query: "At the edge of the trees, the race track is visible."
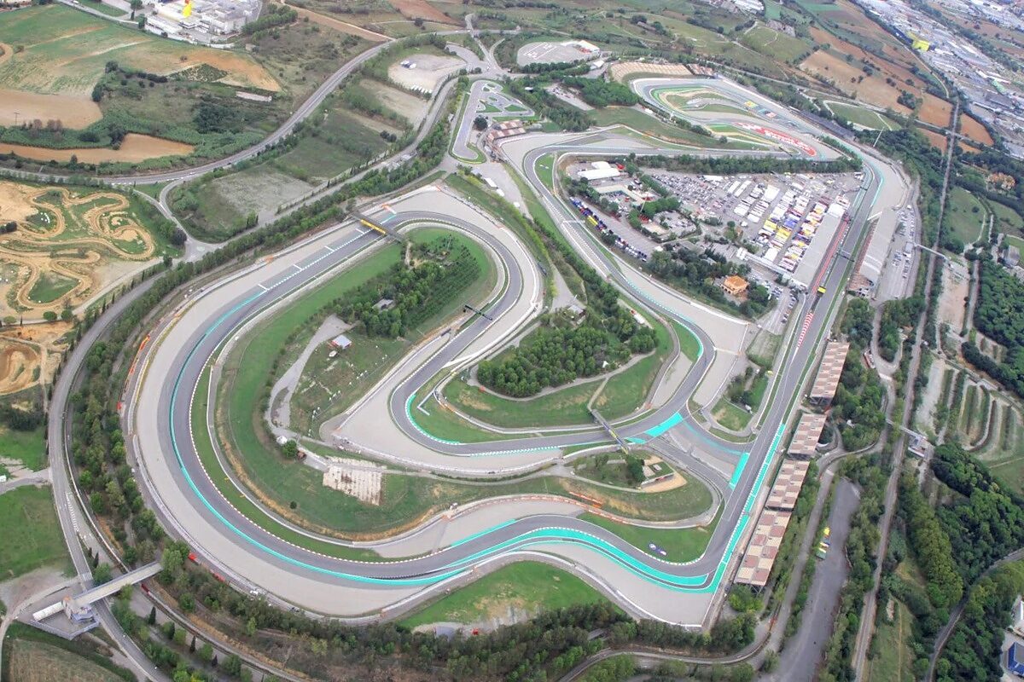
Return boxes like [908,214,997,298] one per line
[176,78,882,578]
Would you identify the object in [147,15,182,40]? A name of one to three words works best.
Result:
building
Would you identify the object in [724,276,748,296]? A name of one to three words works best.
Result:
house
